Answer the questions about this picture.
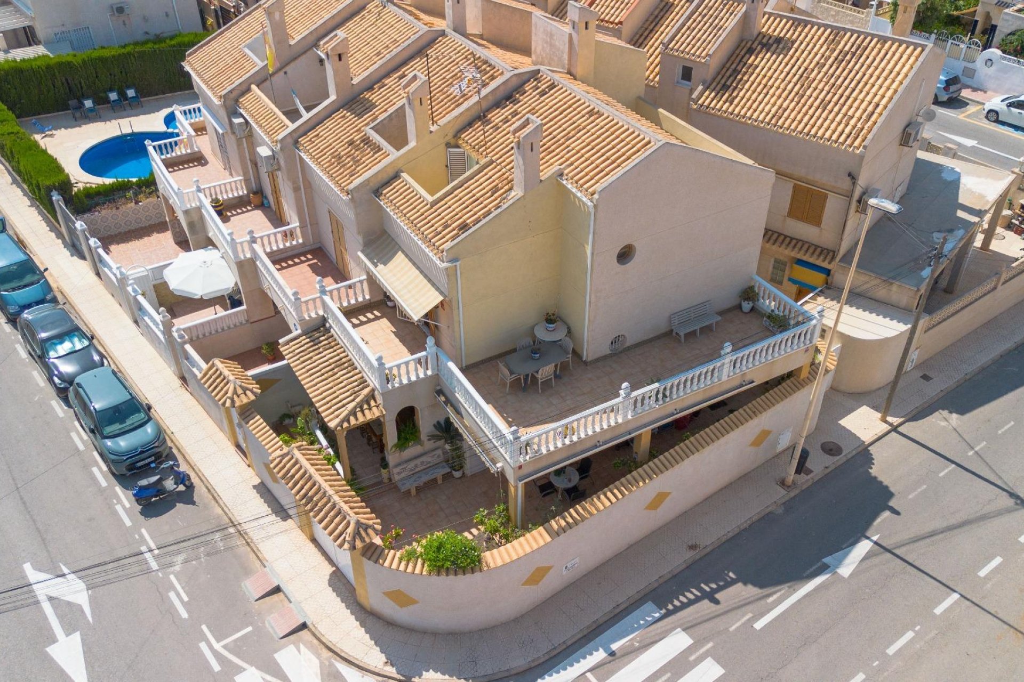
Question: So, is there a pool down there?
Yes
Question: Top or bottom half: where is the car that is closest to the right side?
top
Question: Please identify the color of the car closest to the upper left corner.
blue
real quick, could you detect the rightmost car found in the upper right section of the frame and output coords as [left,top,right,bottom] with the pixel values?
[982,91,1024,124]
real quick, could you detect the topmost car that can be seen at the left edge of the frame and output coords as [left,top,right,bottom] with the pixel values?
[0,239,65,335]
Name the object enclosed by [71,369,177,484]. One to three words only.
car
